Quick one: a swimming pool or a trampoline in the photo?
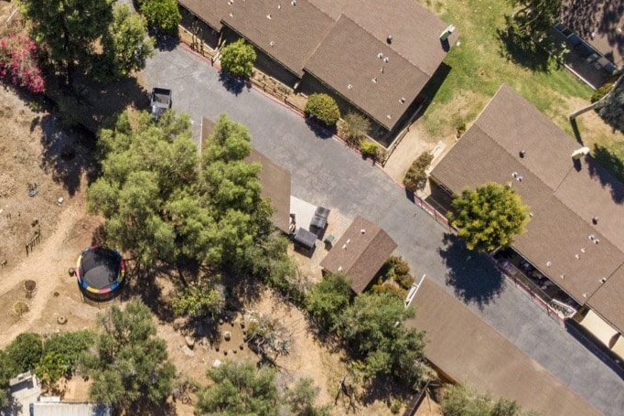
trampoline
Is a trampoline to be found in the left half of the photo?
Yes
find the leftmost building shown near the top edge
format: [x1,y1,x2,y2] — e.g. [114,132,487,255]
[178,0,462,131]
